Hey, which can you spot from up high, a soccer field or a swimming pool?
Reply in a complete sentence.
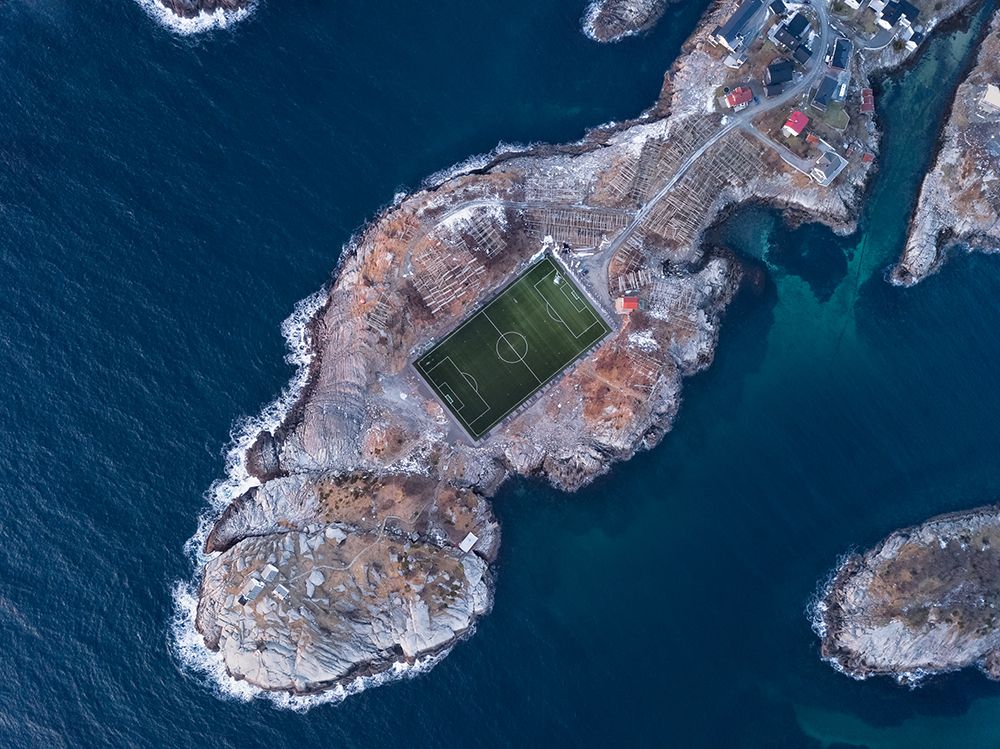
Visible in the photo is a soccer field.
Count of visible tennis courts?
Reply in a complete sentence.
There are no tennis courts in this view.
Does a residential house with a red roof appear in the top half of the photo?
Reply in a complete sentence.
Yes, in the top half of the photo there is a residential house with a red roof.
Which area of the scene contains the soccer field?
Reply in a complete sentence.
Look in the center portion of the view to spot the soccer field.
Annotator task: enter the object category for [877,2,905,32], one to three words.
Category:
house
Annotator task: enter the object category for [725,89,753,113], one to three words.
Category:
house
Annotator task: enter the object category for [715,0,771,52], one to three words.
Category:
building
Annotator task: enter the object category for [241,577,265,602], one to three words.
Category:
shed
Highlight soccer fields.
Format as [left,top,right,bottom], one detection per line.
[409,248,619,447]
